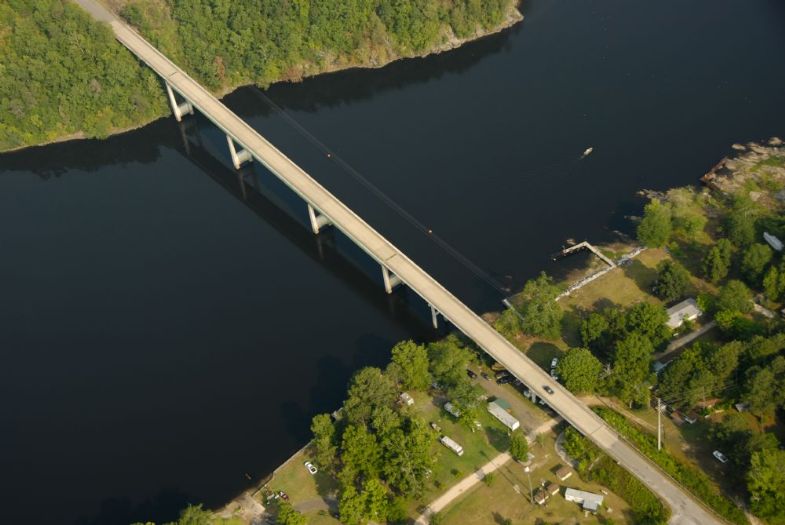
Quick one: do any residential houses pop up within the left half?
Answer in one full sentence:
No, within the left half there is no residential house.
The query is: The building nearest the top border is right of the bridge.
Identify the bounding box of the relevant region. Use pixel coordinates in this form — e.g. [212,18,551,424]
[658,298,704,333]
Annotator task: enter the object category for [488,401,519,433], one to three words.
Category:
house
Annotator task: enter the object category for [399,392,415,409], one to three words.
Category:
camper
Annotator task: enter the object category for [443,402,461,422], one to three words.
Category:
camper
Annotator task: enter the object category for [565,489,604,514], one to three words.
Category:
house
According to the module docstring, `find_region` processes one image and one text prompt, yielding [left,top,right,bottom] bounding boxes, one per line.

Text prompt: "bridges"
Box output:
[107,15,632,460]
